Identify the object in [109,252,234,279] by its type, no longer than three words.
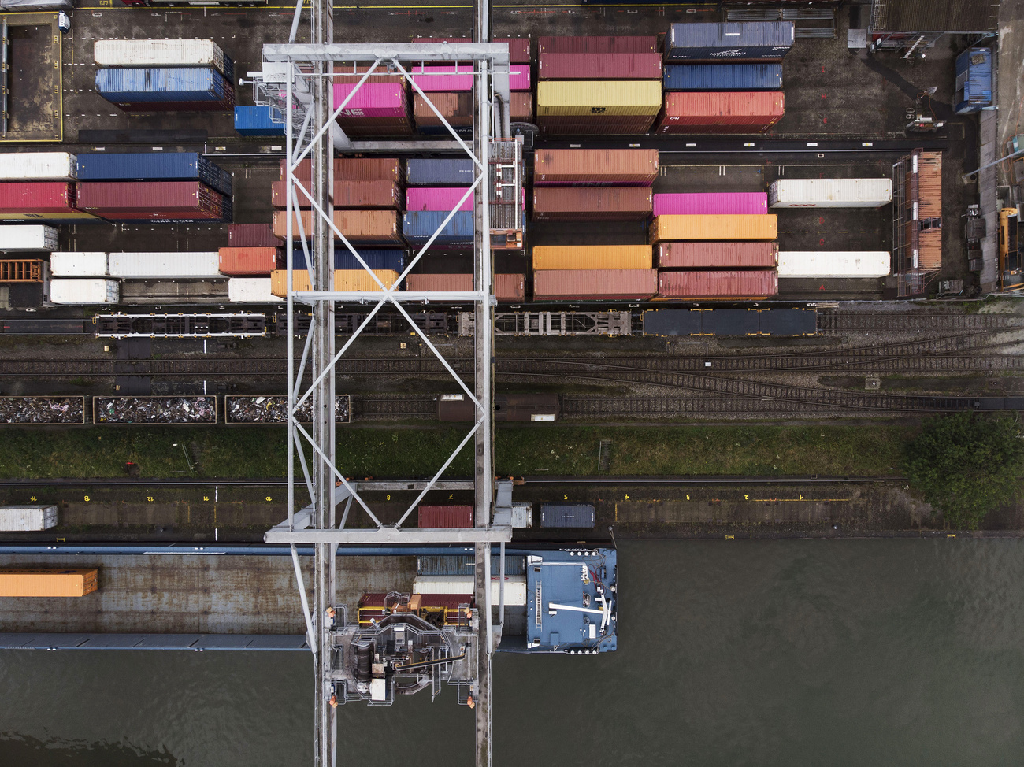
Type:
shipping container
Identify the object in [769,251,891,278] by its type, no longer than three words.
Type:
shipping container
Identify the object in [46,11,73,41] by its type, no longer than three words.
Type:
vehicle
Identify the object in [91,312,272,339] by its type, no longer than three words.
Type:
rail car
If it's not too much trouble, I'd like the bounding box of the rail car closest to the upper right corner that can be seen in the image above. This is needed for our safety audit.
[637,308,822,335]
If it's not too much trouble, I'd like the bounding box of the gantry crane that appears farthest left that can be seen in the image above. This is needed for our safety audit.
[238,0,542,767]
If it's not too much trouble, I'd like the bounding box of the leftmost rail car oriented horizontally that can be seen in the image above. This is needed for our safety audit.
[0,394,93,426]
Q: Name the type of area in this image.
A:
port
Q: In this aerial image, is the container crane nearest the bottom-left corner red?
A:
No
